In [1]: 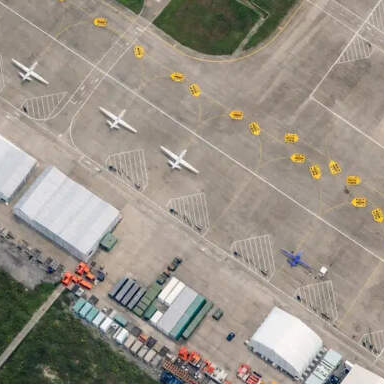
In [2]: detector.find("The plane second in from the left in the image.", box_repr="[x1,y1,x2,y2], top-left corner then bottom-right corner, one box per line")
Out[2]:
[100,106,136,133]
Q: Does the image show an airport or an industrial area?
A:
airport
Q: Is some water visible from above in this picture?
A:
No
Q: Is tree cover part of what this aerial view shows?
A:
No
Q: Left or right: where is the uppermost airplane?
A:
left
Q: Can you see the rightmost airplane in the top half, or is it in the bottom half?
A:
bottom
